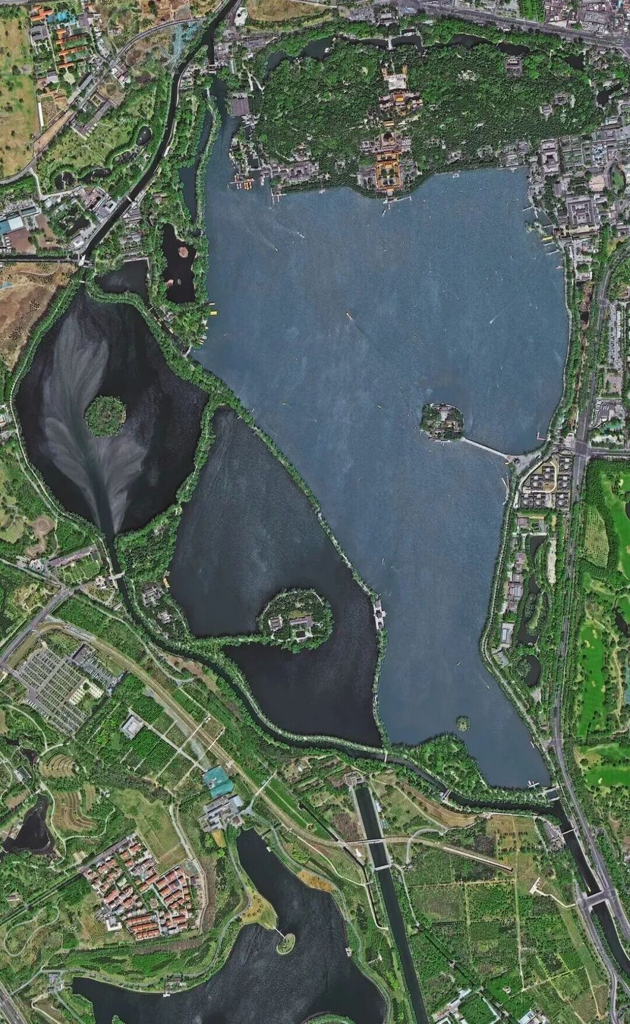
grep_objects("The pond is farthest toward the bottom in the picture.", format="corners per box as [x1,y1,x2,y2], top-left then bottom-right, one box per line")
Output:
[0,796,53,856]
